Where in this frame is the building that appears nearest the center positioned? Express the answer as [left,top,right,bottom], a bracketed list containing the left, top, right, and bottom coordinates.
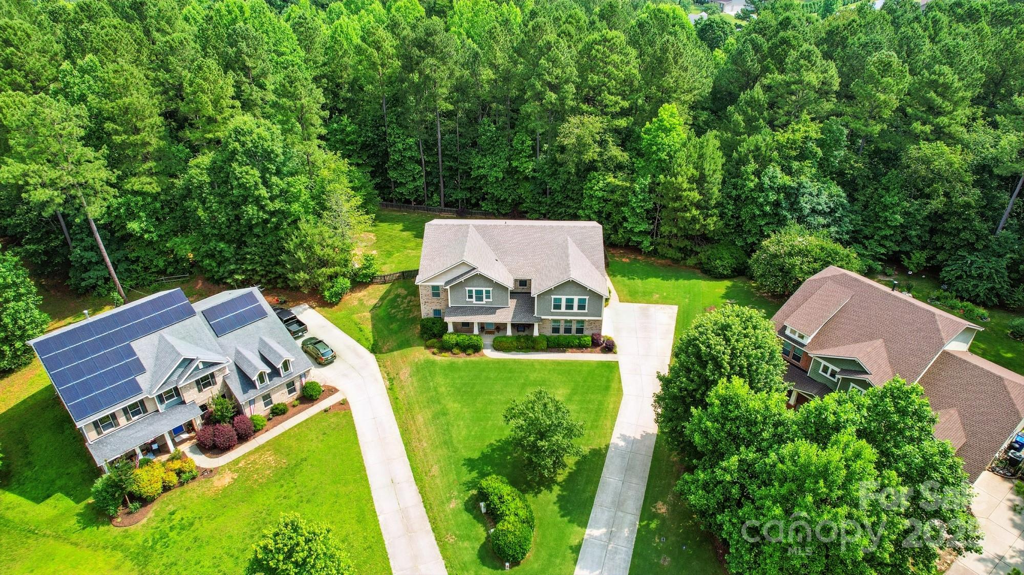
[415,219,609,340]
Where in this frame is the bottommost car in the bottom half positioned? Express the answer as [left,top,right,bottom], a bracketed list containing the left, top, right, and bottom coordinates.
[298,335,335,365]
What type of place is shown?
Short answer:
residential area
